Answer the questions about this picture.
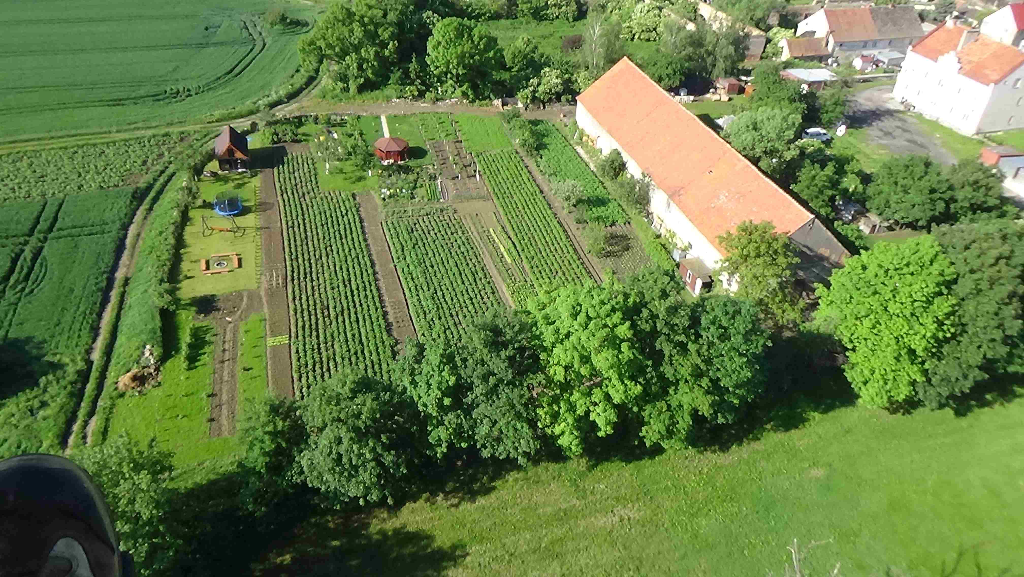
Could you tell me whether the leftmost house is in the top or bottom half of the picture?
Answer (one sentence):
The leftmost house sits in the top half of the picture.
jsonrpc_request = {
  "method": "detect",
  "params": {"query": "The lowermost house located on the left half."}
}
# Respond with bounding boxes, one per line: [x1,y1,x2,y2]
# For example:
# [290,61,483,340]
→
[214,121,253,173]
